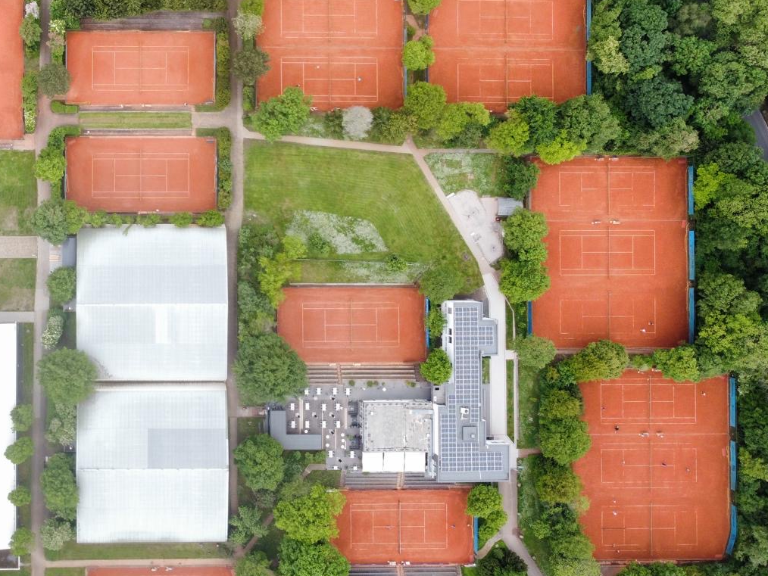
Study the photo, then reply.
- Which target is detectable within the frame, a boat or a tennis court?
tennis court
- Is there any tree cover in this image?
Yes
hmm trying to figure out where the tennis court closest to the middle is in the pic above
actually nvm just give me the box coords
[277,287,426,363]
